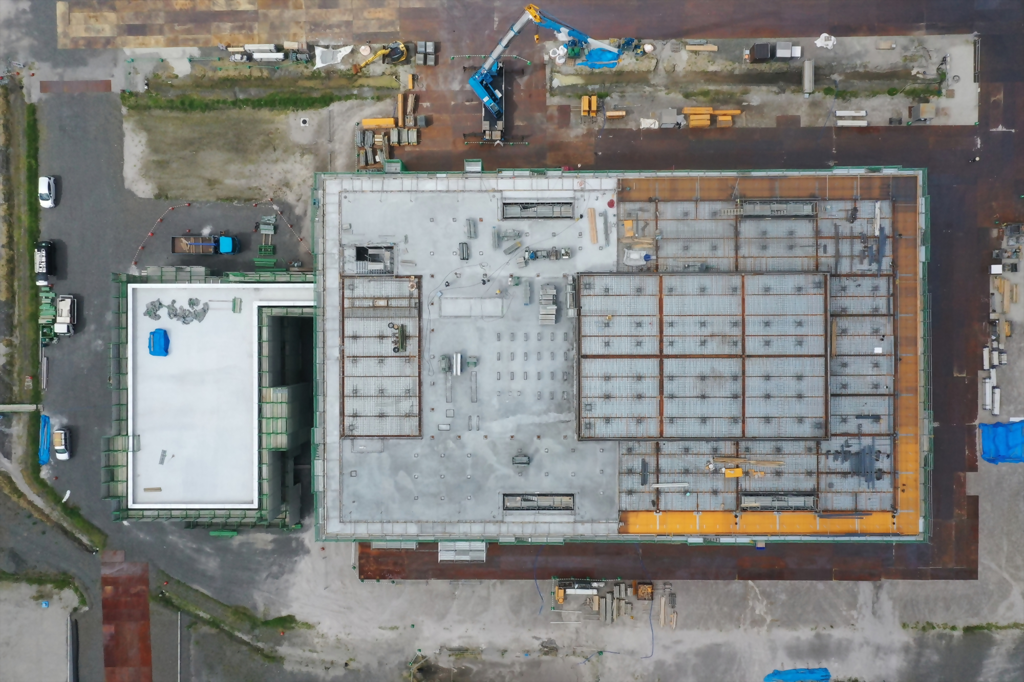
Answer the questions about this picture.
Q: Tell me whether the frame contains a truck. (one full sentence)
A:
Yes, a truck can be made out from above.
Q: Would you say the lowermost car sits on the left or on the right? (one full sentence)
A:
The lowermost car appears in the left half of the scene.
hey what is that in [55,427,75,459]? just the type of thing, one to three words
car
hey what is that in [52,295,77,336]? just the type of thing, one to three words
truck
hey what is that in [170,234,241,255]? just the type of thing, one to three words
truck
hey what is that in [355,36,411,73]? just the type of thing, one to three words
work vehicle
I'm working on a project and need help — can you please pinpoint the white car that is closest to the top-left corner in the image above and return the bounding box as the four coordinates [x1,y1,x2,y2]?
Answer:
[37,177,57,209]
